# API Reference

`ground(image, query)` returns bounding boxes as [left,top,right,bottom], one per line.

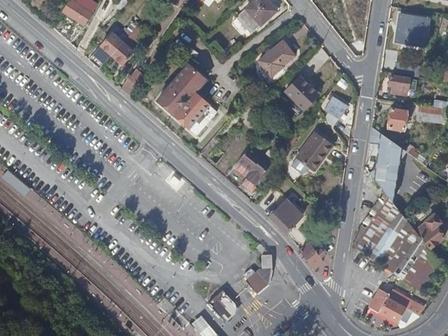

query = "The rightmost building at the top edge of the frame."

[394,12,431,50]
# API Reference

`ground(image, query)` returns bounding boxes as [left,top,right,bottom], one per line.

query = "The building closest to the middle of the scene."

[235,154,266,193]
